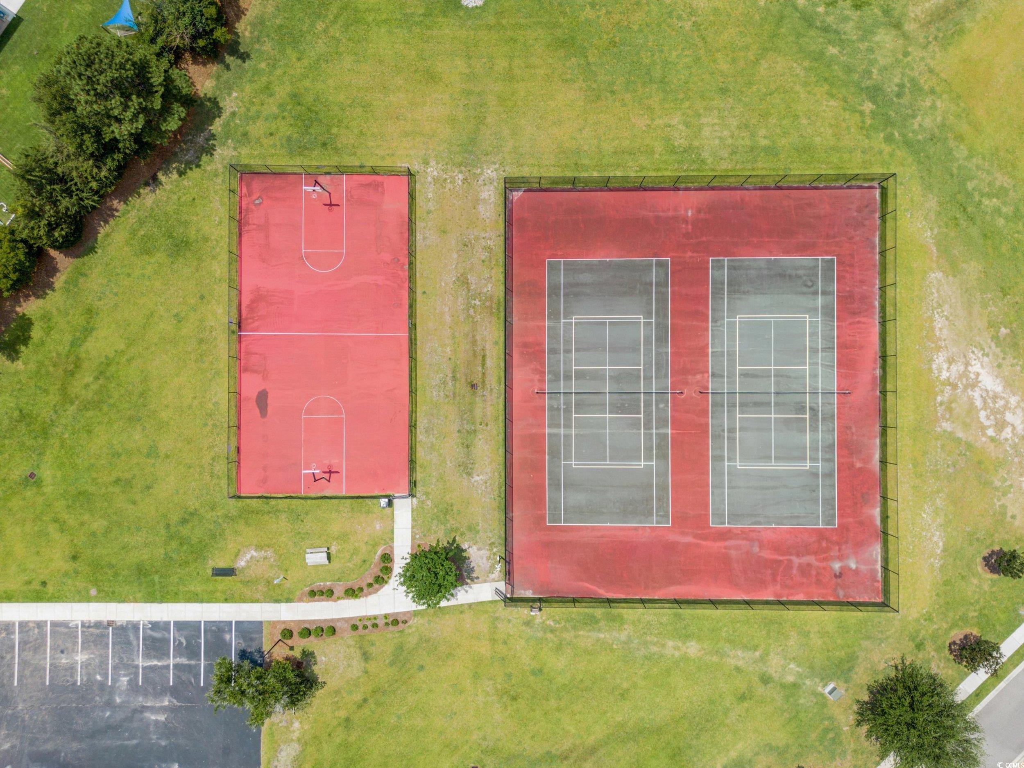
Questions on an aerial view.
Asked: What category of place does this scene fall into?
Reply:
sports ground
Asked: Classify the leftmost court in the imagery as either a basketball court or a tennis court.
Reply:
basketball court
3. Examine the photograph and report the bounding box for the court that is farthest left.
[236,171,410,495]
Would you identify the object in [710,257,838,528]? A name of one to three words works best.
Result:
tennis court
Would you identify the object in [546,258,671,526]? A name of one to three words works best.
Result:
tennis court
